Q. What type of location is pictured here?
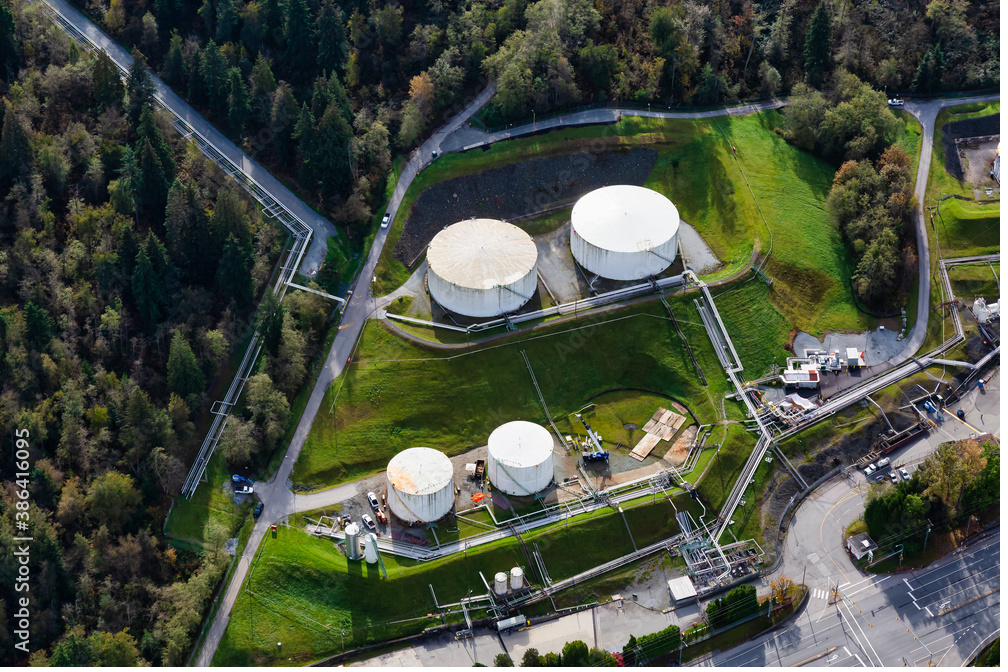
industrial area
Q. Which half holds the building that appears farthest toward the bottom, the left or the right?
right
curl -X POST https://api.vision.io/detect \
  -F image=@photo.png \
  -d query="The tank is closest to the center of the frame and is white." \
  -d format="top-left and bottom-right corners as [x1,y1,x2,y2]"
[429,219,542,322]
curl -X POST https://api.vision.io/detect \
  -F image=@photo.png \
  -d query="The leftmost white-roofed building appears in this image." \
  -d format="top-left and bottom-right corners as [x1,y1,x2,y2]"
[673,580,703,611]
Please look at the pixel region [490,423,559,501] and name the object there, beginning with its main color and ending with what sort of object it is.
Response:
white storage tank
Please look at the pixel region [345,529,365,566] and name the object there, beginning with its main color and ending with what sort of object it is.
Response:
gray silo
